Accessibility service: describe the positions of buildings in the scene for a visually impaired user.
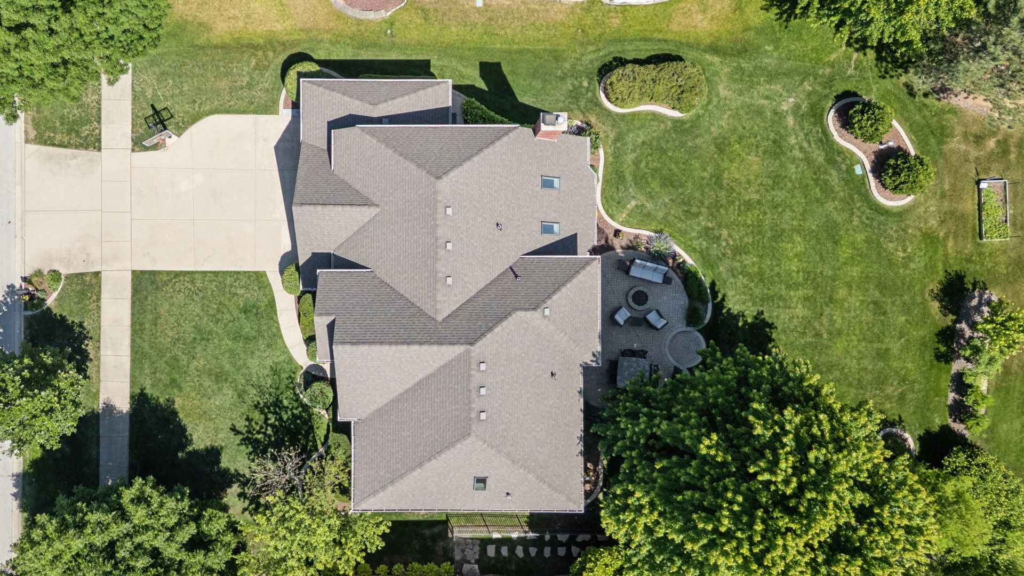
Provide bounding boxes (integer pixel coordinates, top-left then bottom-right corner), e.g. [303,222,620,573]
[292,77,599,512]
